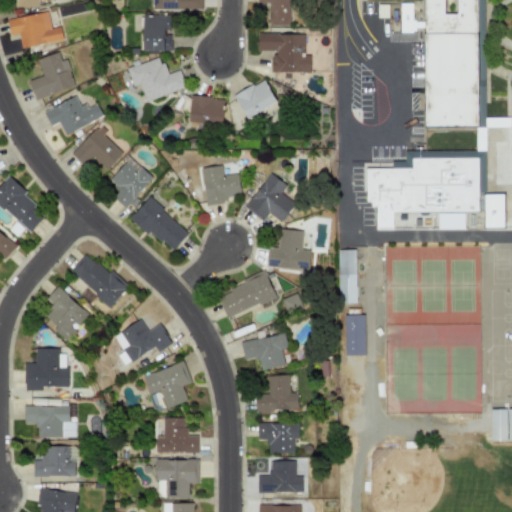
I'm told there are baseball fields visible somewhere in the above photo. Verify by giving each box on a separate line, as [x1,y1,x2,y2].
[370,440,512,512]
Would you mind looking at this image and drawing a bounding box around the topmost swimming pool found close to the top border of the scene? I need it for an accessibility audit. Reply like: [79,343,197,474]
[112,26,124,50]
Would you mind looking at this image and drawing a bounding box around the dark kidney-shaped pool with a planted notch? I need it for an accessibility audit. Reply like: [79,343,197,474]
[308,76,328,95]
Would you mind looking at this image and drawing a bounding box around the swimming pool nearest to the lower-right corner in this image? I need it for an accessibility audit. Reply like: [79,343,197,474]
[296,324,311,344]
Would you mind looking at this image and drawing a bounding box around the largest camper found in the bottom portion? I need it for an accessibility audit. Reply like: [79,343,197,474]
[232,324,257,339]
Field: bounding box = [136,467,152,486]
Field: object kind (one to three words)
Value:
swimming pool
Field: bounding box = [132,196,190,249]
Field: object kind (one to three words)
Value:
house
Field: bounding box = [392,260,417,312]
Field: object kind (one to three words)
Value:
tennis court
